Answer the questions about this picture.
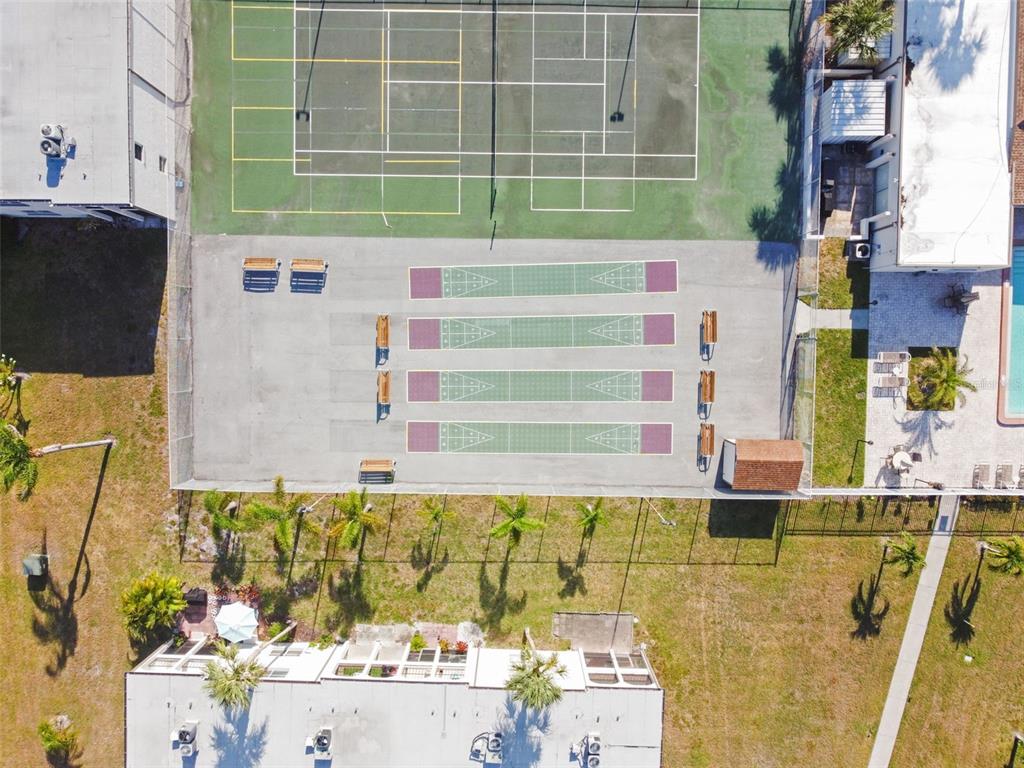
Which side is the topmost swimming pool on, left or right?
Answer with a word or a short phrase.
right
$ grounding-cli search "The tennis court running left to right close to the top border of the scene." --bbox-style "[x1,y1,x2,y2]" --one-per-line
[191,0,807,243]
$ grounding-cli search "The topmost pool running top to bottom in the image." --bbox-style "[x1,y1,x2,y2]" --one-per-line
[1000,238,1024,426]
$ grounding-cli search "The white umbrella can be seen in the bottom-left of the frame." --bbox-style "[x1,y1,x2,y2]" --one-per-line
[215,596,263,644]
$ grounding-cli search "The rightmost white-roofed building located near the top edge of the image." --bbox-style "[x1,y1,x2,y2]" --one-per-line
[869,0,1024,272]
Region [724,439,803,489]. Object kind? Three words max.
shed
